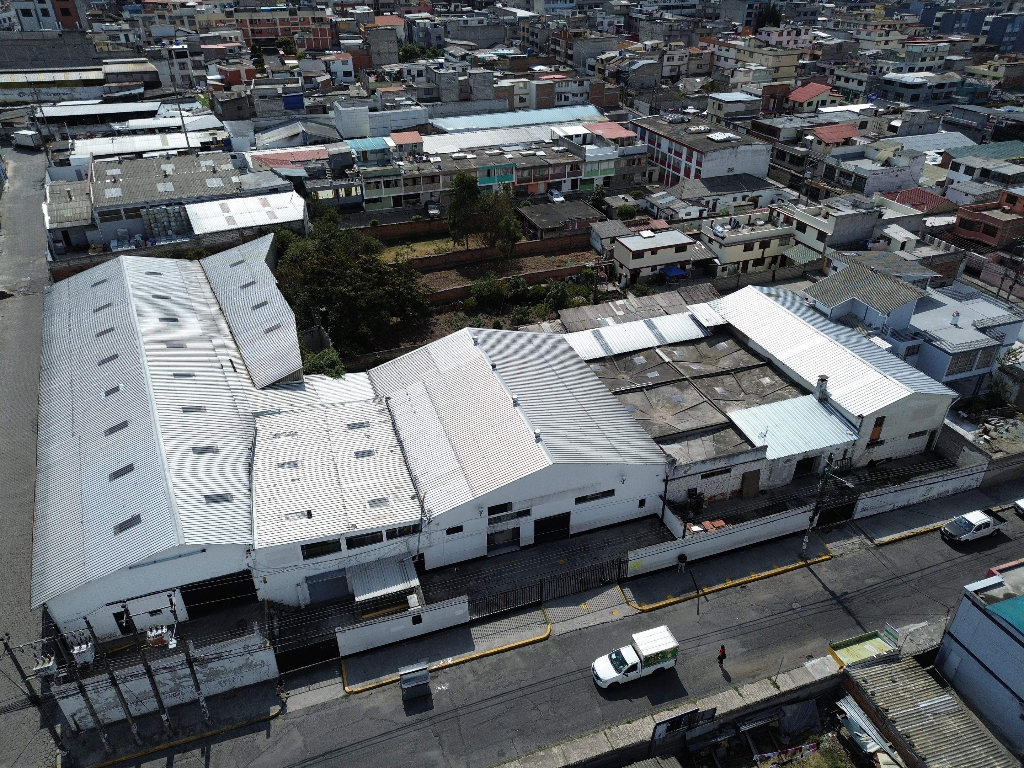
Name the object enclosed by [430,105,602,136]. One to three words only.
building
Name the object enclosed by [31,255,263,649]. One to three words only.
warehouse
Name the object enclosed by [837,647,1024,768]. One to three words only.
building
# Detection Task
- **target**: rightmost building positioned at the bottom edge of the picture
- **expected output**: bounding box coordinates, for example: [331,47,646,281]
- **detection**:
[938,567,1024,758]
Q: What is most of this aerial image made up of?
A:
buildings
